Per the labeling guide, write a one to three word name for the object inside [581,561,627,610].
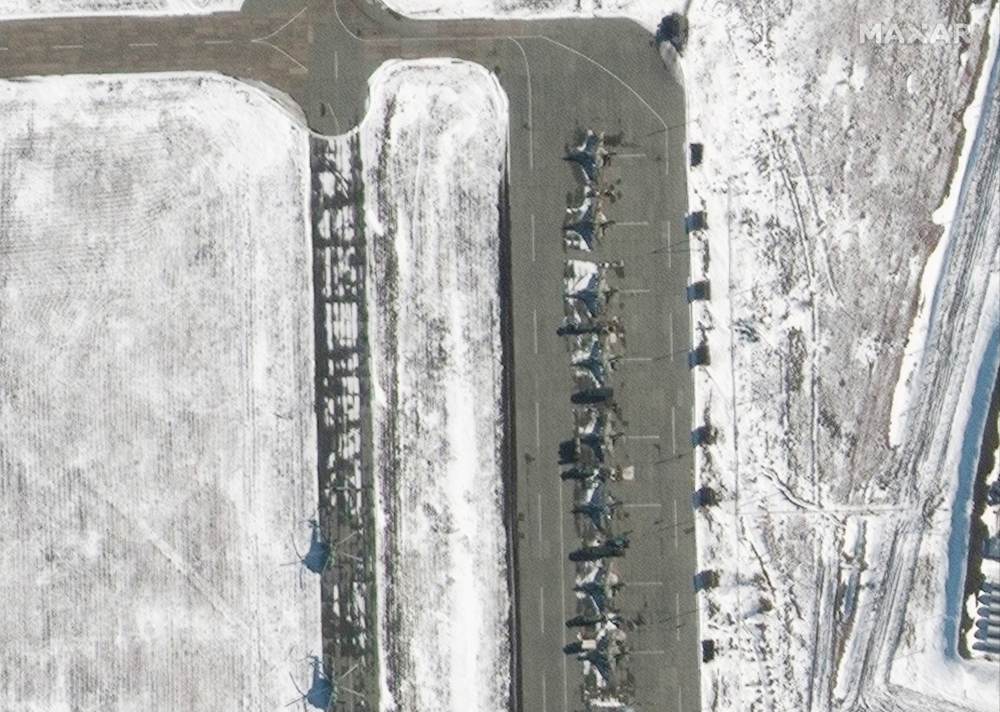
airplane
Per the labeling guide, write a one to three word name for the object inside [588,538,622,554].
vehicle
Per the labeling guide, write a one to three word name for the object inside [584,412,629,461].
airplane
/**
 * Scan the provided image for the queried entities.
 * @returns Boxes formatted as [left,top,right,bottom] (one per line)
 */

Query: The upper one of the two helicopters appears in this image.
[301,514,356,581]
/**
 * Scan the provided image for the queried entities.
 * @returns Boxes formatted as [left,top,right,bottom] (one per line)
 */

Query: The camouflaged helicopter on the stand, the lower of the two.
[302,649,357,712]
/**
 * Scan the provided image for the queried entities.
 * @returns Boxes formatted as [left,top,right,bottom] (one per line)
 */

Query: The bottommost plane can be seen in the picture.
[585,630,631,680]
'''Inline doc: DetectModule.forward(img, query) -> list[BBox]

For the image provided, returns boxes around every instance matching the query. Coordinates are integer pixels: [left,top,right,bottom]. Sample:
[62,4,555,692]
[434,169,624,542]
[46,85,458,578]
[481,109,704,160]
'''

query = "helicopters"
[301,514,356,581]
[302,649,357,712]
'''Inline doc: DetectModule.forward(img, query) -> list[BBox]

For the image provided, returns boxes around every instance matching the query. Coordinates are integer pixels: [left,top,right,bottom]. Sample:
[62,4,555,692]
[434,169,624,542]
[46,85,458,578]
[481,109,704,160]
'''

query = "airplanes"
[585,630,631,680]
[580,482,626,531]
[579,334,624,384]
[584,412,629,461]
[571,267,617,315]
[571,197,617,247]
[581,561,627,610]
